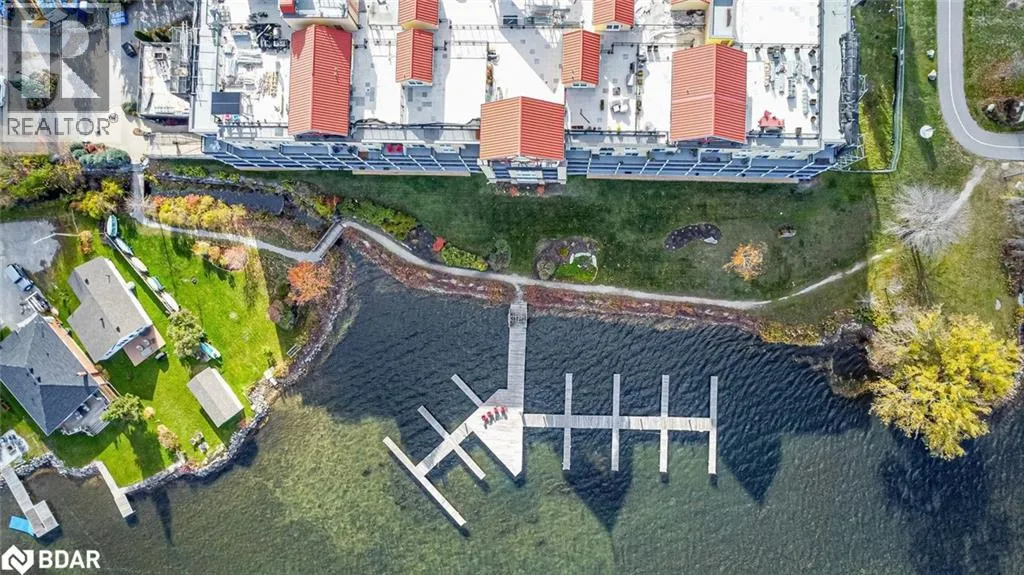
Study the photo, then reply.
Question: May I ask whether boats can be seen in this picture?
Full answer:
Yes, there's a boat here.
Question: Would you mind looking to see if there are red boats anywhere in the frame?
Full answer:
No, this view has no red boat in it.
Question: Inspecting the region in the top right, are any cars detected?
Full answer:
No, I can find no car in the top right.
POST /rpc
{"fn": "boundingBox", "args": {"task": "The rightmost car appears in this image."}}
[114,32,139,62]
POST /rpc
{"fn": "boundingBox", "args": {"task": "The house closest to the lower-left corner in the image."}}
[0,313,120,440]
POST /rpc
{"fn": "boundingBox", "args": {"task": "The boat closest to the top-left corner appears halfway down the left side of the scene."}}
[104,215,116,239]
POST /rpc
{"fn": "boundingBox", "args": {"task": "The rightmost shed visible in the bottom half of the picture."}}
[188,367,246,428]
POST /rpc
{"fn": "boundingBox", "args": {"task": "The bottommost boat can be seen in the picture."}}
[199,342,218,360]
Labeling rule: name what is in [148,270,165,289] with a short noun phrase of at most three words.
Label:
boat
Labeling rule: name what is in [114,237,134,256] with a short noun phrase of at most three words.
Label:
boat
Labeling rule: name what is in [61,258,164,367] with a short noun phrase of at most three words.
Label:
house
